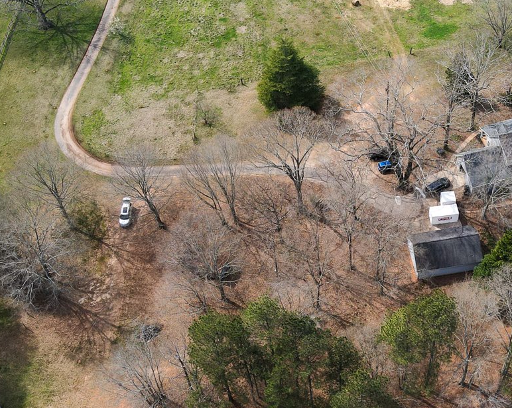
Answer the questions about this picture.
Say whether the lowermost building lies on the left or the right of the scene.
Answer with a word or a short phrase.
right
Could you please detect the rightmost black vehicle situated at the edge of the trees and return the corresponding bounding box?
[425,177,453,195]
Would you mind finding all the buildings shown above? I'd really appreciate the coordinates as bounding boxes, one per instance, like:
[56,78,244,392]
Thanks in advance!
[454,120,512,195]
[409,229,481,278]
